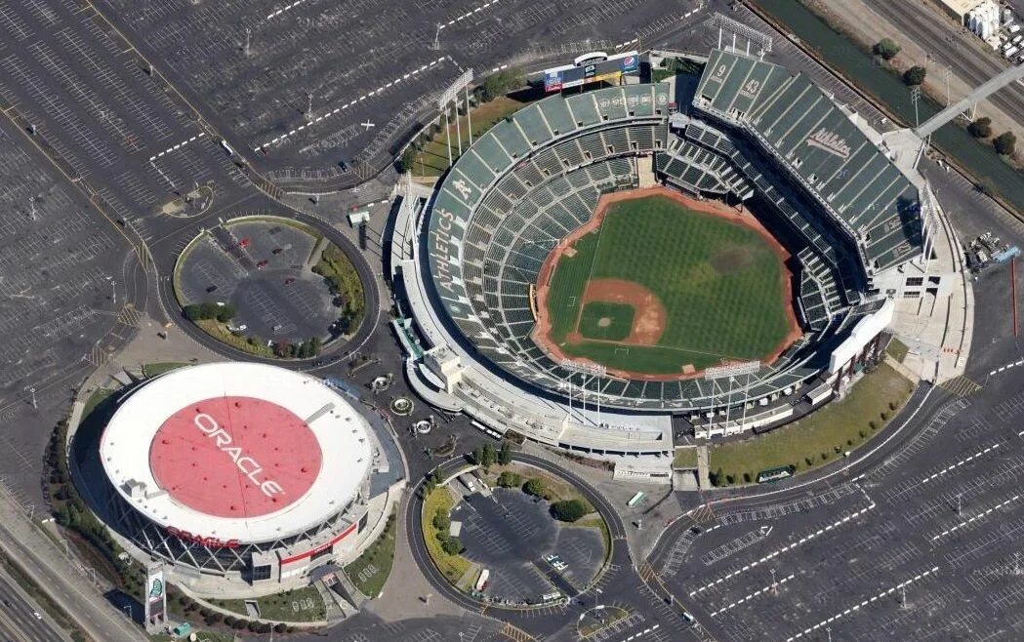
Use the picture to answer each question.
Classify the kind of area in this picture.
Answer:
sports ground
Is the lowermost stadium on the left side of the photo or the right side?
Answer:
left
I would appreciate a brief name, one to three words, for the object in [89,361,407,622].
stadium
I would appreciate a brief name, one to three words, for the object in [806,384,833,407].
shed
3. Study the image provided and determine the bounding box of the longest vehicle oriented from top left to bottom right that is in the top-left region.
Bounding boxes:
[220,138,234,153]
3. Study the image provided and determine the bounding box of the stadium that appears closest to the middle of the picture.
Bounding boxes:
[379,80,860,487]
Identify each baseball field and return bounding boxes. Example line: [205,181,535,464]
[531,180,807,384]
